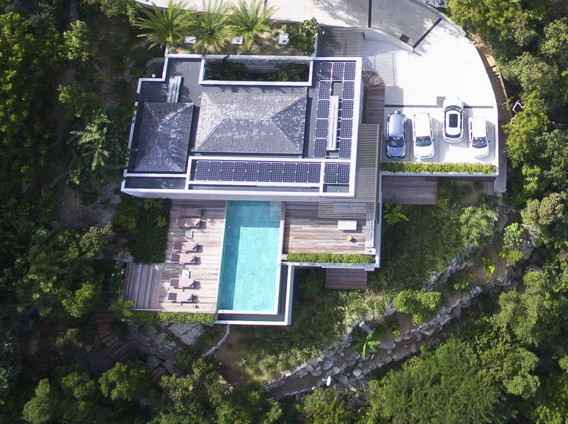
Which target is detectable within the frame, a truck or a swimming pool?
swimming pool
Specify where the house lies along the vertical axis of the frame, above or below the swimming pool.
above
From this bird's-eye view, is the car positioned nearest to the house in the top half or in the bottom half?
top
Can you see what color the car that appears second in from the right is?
white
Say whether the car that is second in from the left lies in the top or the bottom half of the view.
top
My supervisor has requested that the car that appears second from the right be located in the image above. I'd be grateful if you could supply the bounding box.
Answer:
[442,97,466,142]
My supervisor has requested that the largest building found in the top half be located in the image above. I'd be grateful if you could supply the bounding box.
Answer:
[121,56,366,201]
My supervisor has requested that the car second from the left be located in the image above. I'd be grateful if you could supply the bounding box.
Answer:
[411,112,435,159]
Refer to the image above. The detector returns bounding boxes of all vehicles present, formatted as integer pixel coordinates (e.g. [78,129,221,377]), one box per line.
[468,117,492,159]
[384,109,408,159]
[411,112,435,159]
[442,97,466,142]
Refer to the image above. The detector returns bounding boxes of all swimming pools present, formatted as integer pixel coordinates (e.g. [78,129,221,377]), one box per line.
[215,198,290,315]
